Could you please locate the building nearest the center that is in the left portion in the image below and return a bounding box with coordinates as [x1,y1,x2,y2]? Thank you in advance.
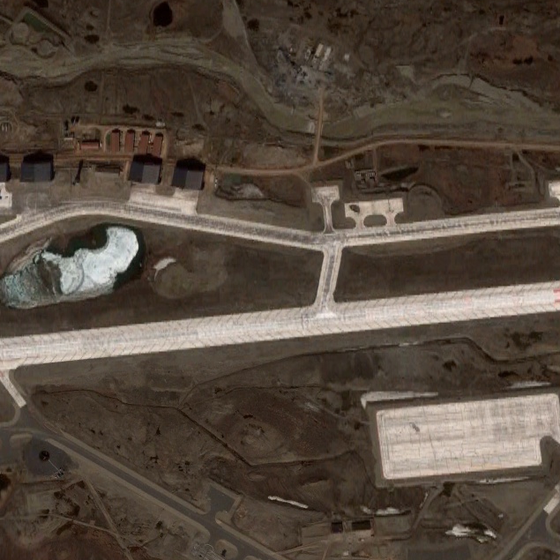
[171,166,204,190]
